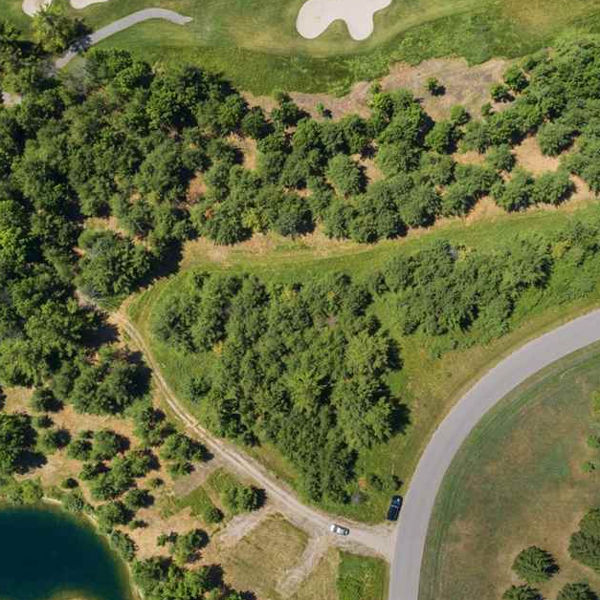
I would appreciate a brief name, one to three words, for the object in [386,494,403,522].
vehicle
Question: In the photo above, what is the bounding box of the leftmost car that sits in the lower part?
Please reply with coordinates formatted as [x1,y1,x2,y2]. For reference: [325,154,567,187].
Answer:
[330,522,349,535]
